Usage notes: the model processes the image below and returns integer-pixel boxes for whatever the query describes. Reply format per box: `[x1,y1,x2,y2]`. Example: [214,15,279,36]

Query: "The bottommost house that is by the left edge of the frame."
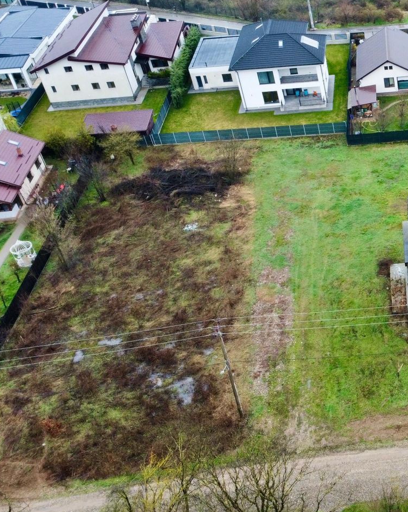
[0,126,48,225]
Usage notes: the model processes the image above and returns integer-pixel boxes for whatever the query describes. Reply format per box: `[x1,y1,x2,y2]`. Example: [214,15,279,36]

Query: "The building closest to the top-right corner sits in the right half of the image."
[356,24,408,94]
